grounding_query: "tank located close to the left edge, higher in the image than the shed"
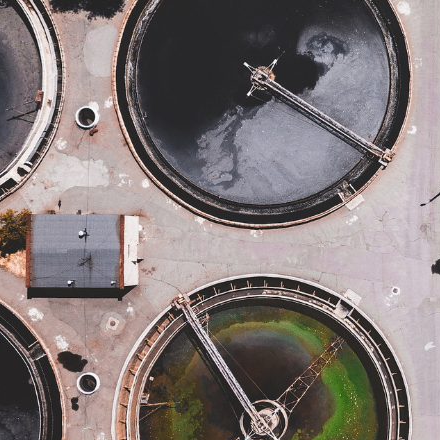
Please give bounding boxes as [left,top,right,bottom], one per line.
[0,0,65,199]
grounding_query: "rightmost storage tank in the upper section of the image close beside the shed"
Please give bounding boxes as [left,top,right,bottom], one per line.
[113,0,410,227]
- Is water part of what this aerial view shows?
Yes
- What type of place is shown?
industrial area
